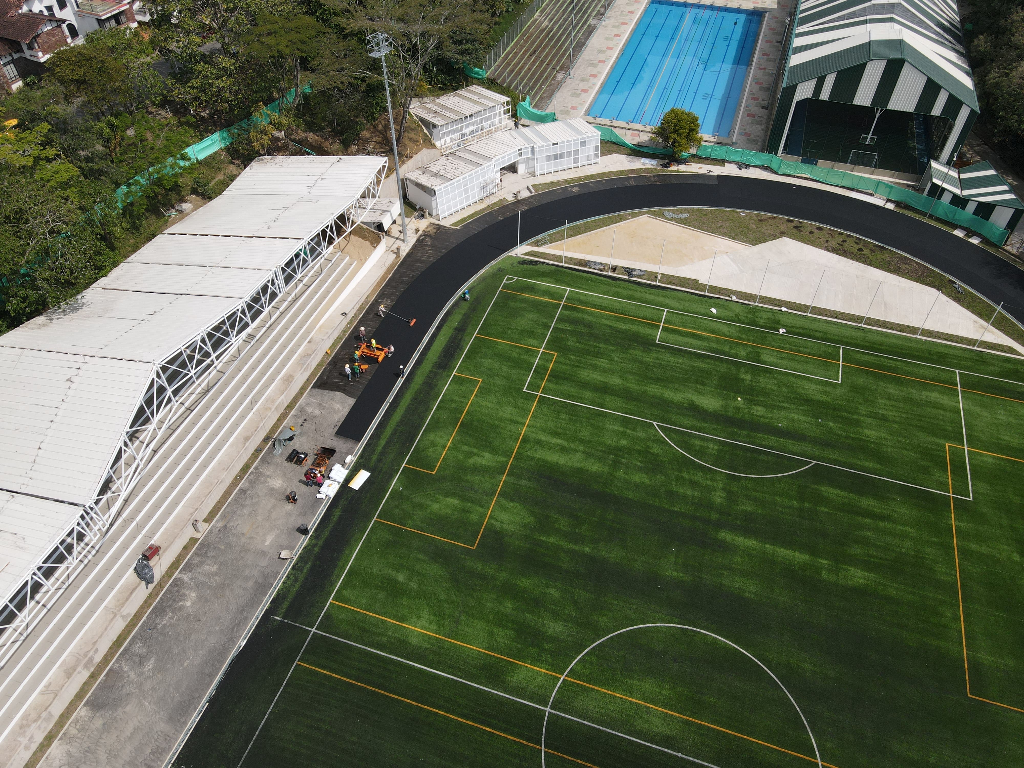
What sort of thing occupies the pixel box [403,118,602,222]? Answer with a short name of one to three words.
building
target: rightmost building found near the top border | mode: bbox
[764,0,982,183]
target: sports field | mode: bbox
[170,255,1024,768]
